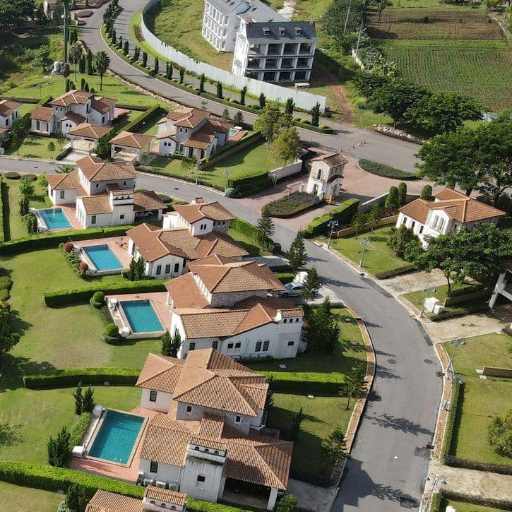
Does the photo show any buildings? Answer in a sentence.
Yes, there's a building down there.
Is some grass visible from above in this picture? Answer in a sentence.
Yes, grass can be seen from above here.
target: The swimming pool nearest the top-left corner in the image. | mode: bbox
[26,203,76,231]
